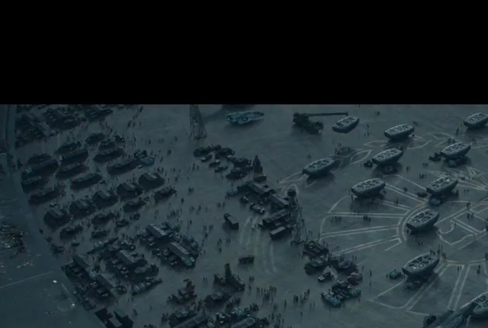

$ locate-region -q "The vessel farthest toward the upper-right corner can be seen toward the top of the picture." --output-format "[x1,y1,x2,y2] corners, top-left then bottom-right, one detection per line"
[463,115,488,135]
